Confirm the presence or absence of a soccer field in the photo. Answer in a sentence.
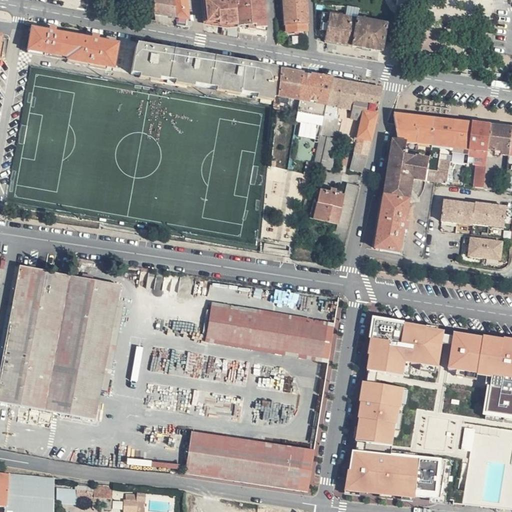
Yes, a soccer field can be made out from above.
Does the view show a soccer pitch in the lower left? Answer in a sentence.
No, no soccer pitch appears in the lower left.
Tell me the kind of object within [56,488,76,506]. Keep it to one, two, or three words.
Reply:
shed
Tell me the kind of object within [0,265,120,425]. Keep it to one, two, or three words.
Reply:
warehouse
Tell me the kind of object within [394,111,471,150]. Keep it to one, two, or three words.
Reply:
house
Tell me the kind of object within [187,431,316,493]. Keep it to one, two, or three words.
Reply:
building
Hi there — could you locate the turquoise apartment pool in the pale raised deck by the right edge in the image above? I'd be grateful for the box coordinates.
[462,424,512,508]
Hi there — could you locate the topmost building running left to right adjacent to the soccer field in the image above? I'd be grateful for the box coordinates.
[28,22,120,69]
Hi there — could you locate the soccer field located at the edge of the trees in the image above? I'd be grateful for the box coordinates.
[7,66,273,250]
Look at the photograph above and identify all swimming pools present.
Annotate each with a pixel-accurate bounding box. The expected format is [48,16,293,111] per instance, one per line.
[462,424,512,508]
[144,494,176,512]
